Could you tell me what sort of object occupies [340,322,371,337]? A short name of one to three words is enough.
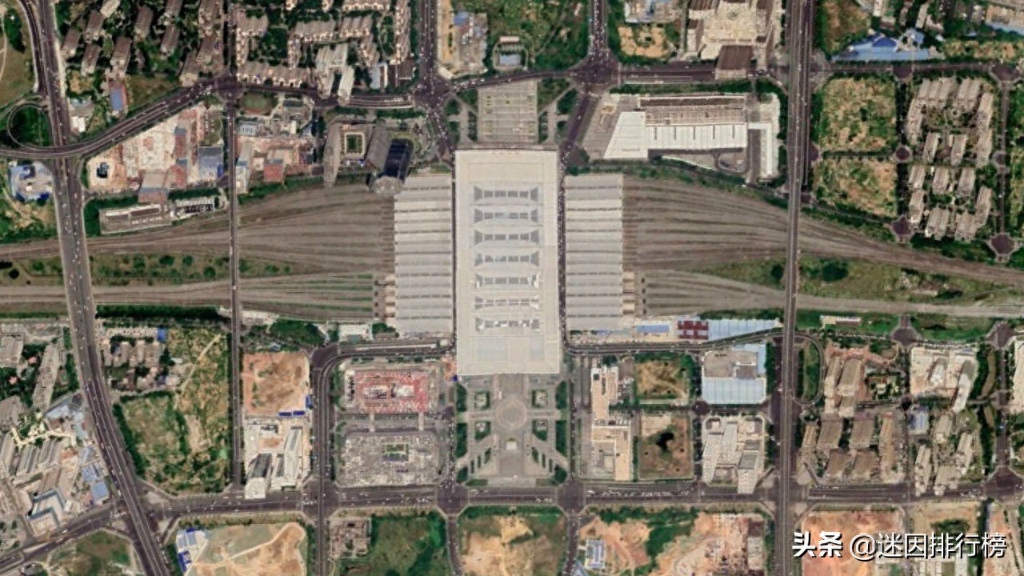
building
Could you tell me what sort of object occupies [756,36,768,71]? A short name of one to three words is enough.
building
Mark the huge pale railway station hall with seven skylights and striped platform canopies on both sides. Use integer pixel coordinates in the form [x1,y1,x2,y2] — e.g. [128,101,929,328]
[376,150,645,374]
